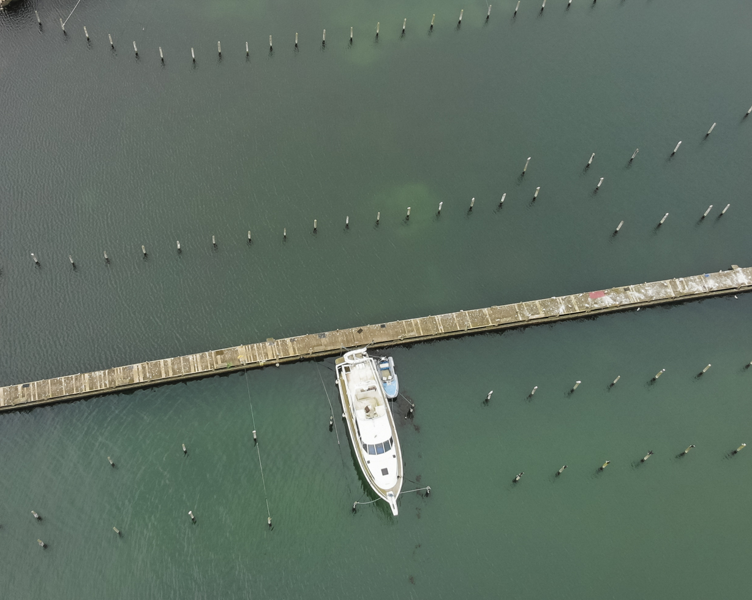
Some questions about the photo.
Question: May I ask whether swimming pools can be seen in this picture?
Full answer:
No, no swimming pool is visible in the view.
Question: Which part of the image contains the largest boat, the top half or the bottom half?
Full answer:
You can find the largest boat in the bottom half.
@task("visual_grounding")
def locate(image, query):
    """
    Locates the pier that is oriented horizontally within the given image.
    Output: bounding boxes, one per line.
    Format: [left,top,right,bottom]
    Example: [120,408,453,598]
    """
[0,266,752,415]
